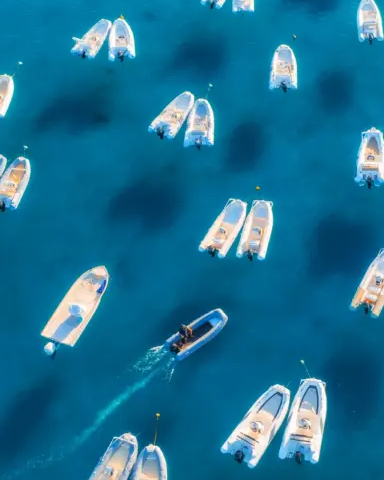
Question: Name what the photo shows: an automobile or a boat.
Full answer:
The image shows a boat.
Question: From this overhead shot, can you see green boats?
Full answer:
No, there's no green boat here.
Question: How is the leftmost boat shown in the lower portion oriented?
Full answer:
The leftmost boat shown in the lower portion is oriented at an angle.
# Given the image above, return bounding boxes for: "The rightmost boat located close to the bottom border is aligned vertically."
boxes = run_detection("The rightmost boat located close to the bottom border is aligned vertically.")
[280,378,326,466]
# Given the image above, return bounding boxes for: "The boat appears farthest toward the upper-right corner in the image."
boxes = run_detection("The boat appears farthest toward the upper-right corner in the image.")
[357,0,383,47]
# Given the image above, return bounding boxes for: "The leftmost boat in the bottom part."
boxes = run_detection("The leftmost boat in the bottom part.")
[41,265,108,355]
